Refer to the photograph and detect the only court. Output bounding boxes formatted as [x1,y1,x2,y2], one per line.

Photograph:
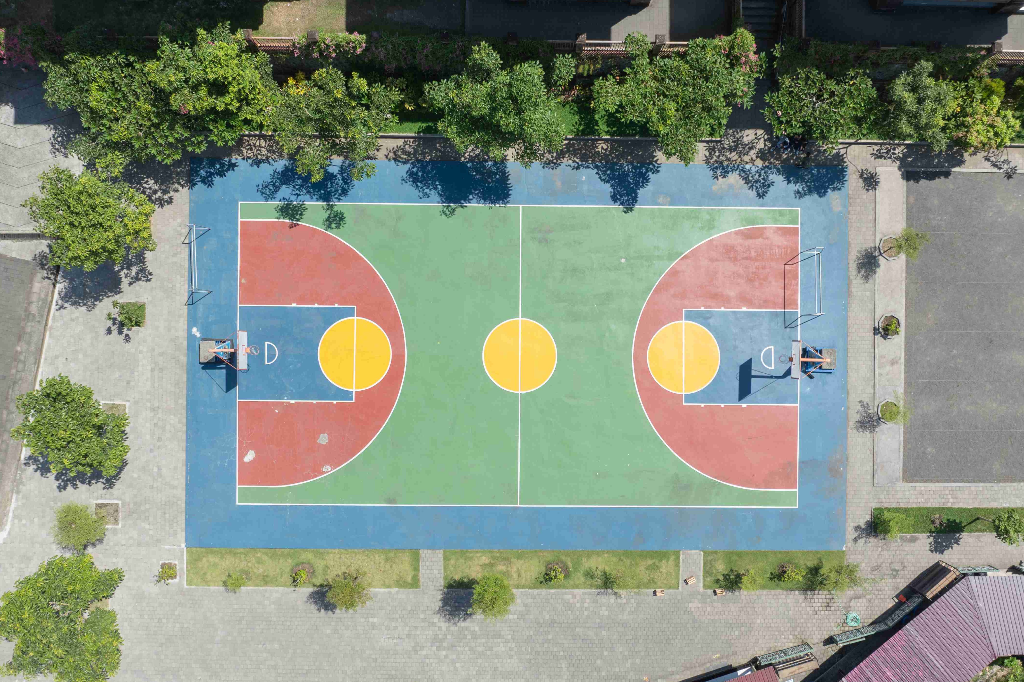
[185,158,848,551]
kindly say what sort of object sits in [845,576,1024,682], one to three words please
building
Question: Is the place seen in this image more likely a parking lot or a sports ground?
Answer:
sports ground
